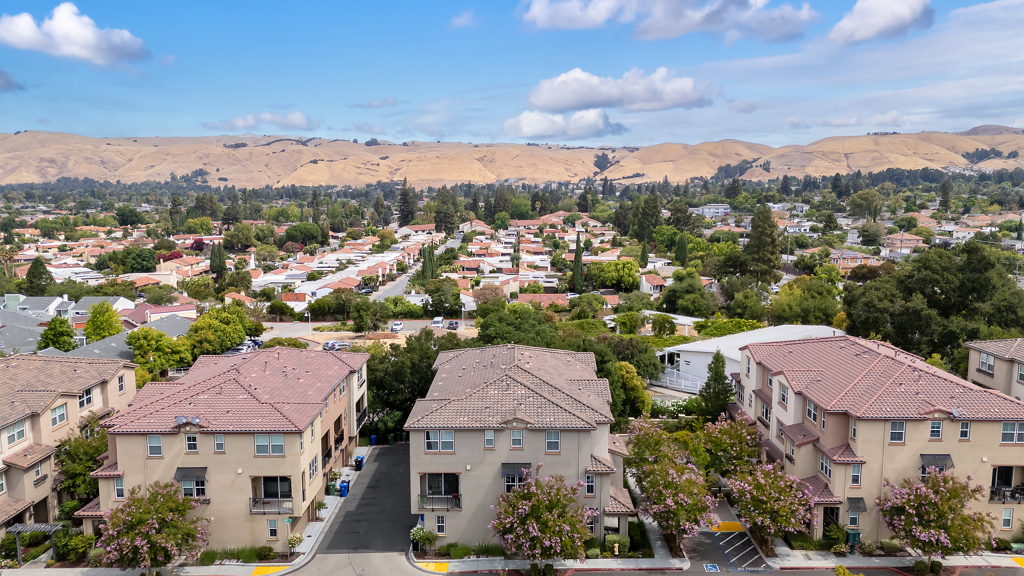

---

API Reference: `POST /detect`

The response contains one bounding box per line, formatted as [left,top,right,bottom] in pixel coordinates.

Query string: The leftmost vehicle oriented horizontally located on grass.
[327,339,357,352]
